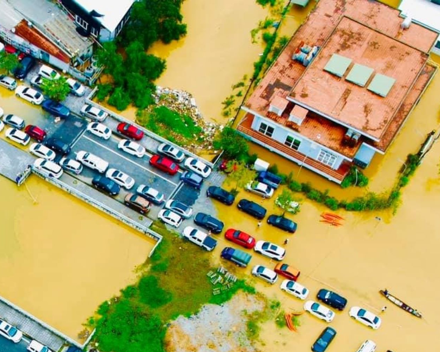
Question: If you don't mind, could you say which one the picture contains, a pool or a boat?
boat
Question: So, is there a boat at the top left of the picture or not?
No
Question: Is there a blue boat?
No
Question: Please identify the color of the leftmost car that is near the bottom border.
white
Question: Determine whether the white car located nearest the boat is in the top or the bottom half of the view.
bottom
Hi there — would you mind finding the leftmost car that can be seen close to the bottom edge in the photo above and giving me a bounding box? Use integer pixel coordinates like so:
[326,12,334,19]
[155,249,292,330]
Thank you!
[0,318,24,345]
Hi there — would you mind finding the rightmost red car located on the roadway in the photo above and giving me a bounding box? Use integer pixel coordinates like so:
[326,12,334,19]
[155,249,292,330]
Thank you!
[149,157,181,176]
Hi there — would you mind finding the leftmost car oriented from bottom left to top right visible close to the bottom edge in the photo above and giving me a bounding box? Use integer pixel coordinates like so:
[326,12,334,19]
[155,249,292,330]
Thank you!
[312,324,338,352]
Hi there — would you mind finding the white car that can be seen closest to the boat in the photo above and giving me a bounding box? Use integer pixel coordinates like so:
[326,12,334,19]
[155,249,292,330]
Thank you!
[348,308,383,330]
